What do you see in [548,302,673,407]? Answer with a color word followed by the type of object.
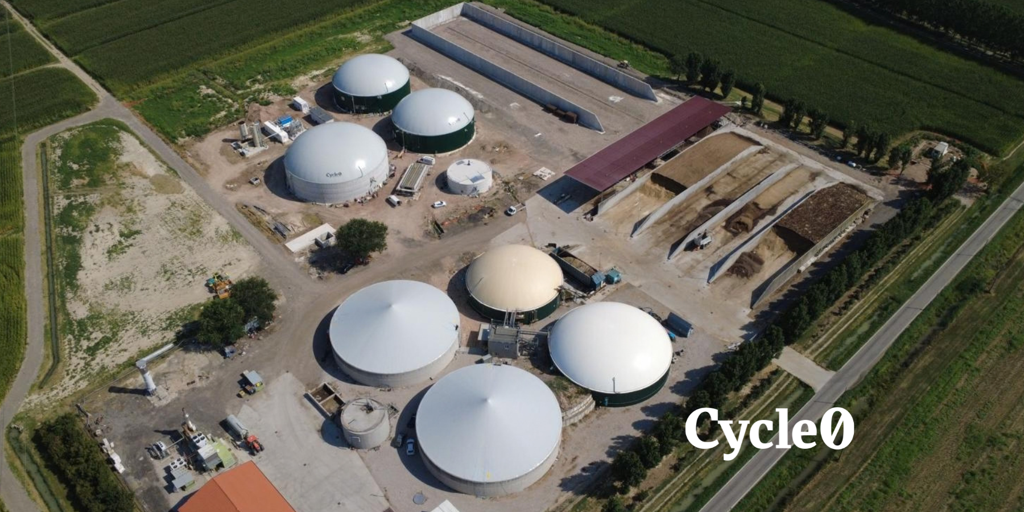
white storage tank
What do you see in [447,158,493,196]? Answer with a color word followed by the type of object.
white storage tank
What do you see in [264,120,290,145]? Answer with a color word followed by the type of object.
white shipping container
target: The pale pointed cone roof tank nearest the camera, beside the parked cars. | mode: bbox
[415,363,563,498]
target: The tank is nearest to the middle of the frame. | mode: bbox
[466,245,564,324]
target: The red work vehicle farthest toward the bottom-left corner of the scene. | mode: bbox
[245,431,265,452]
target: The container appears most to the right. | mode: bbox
[667,314,694,339]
